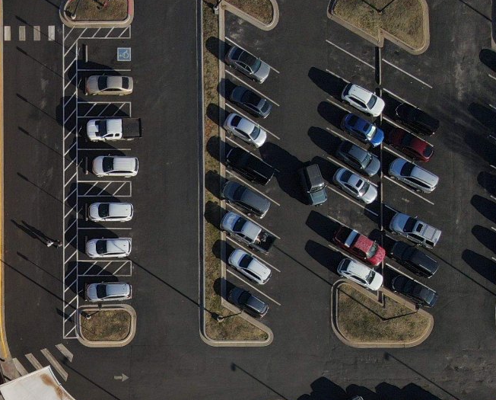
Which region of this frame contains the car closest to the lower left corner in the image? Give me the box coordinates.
[86,279,132,301]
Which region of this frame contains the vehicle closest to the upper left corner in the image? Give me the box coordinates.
[86,71,132,95]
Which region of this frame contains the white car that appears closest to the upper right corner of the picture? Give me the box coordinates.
[338,80,385,118]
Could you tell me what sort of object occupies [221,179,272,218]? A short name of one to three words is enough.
car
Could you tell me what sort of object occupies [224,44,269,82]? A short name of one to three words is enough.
car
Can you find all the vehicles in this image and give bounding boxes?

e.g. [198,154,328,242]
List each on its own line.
[391,239,440,277]
[225,248,272,285]
[393,100,440,137]
[86,71,132,95]
[300,161,328,206]
[221,111,266,148]
[387,127,434,163]
[338,80,385,118]
[86,115,143,142]
[224,44,269,82]
[390,211,441,250]
[86,235,132,257]
[338,111,384,149]
[220,143,280,188]
[331,165,377,202]
[222,282,270,319]
[335,255,382,292]
[86,279,132,301]
[221,179,272,218]
[220,210,280,254]
[328,223,387,268]
[87,199,133,223]
[226,83,274,120]
[90,154,140,177]
[334,139,381,176]
[388,156,440,195]
[389,274,438,310]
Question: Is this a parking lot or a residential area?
parking lot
